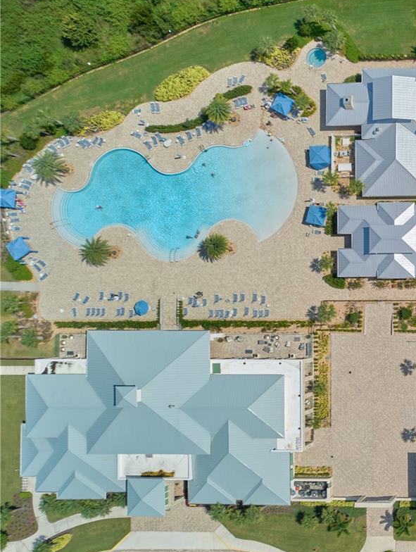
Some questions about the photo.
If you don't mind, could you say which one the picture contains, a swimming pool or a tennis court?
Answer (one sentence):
There is a swimming pool in the scene.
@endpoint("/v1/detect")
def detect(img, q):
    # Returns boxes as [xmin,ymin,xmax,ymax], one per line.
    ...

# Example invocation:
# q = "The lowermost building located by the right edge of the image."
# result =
[338,202,416,279]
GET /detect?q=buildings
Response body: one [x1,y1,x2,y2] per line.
[338,202,416,279]
[327,68,416,196]
[20,331,311,508]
